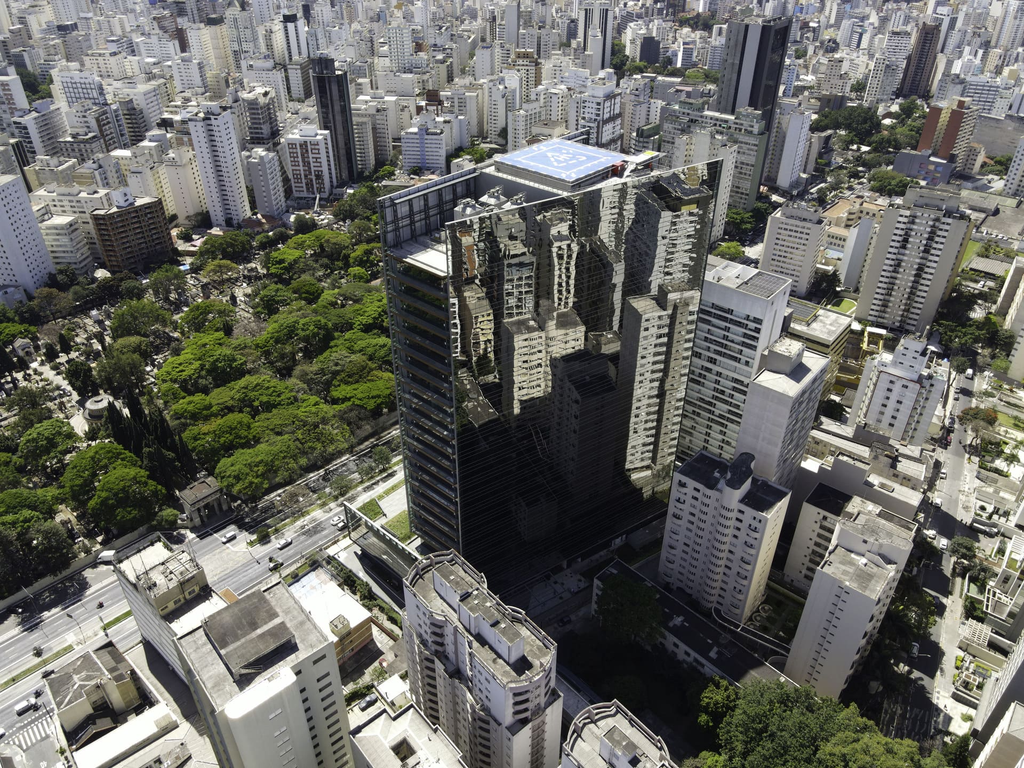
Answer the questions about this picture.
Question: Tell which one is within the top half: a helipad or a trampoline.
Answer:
helipad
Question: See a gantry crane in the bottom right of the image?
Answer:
No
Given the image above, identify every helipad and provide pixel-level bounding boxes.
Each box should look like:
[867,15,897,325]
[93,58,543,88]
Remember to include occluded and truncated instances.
[494,137,627,190]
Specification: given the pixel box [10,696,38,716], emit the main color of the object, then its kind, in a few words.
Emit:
white vehicle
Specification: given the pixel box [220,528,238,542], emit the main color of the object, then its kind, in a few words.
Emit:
white car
